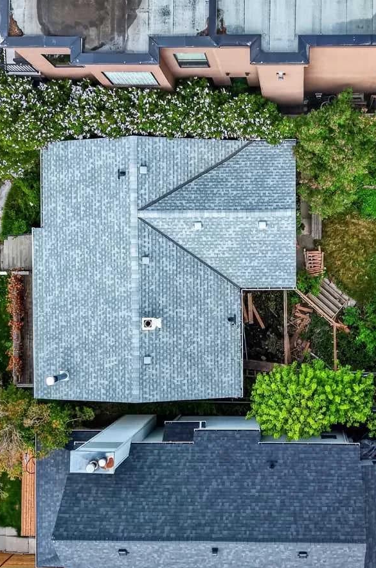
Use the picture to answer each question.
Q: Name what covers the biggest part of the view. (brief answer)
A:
buildings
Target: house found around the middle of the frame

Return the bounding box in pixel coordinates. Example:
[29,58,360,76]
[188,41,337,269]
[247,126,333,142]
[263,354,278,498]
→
[31,135,297,402]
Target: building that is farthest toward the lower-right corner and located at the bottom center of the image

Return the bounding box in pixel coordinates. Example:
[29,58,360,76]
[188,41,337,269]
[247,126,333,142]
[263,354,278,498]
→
[34,413,376,568]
